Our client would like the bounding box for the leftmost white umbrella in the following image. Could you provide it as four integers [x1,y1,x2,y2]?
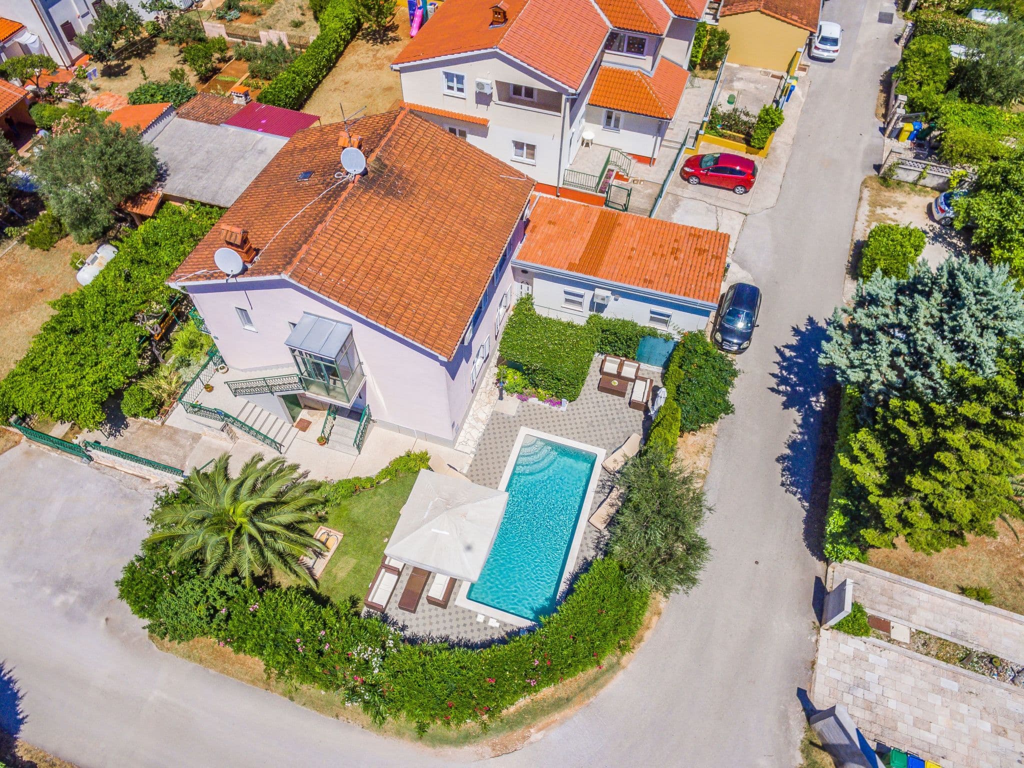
[384,469,508,583]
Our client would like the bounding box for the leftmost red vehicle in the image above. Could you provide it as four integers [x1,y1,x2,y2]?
[683,152,761,196]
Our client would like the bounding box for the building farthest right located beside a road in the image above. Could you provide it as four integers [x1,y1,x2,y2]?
[720,0,829,71]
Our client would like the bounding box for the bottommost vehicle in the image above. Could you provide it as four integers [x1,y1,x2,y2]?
[714,281,765,355]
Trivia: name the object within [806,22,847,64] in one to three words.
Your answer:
car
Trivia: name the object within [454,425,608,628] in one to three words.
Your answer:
swimming pool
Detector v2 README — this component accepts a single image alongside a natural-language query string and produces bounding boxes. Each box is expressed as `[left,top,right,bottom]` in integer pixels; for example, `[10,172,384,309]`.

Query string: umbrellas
[384,469,508,583]
[647,391,666,428]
